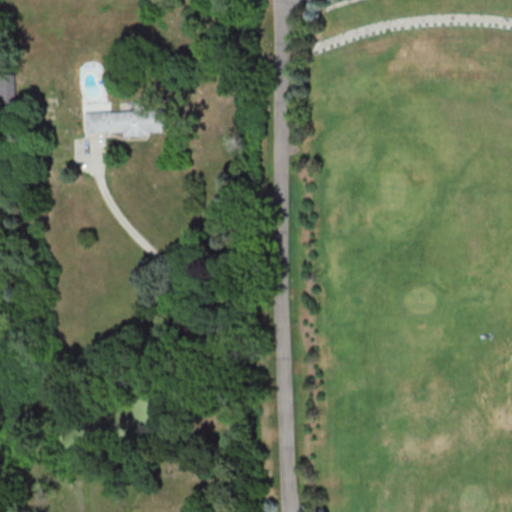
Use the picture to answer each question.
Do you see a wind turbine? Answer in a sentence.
No, I find no wind turbine anywhere in the image.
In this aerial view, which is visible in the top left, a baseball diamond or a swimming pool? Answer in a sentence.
It is a swimming pool that can be seen in the top left.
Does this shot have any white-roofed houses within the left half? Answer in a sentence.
Yes, there is a white-roofed house within the left half.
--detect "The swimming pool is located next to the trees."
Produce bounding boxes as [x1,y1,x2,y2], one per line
[80,61,112,135]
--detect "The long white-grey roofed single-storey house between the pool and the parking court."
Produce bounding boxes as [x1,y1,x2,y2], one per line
[86,112,162,142]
